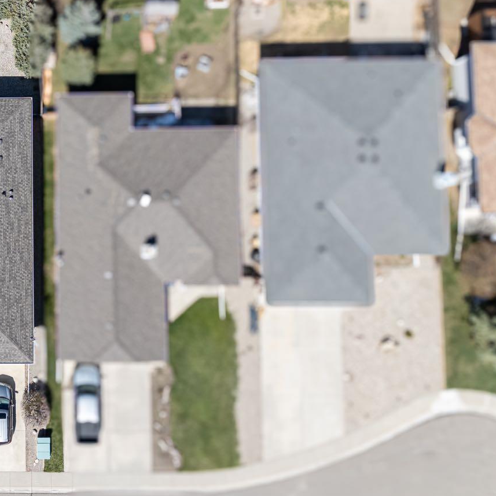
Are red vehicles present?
No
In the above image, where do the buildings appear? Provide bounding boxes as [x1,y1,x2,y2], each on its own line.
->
[52,94,242,363]
[0,97,38,364]
[249,58,460,307]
